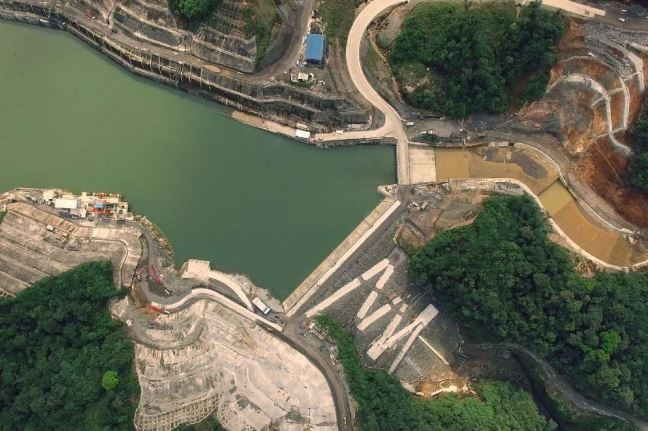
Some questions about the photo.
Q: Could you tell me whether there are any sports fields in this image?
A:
No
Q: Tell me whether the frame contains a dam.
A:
Yes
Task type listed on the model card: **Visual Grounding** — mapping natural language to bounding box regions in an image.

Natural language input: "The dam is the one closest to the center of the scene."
[277,191,449,375]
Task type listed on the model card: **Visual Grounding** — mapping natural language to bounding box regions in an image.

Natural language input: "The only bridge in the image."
[393,142,409,187]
